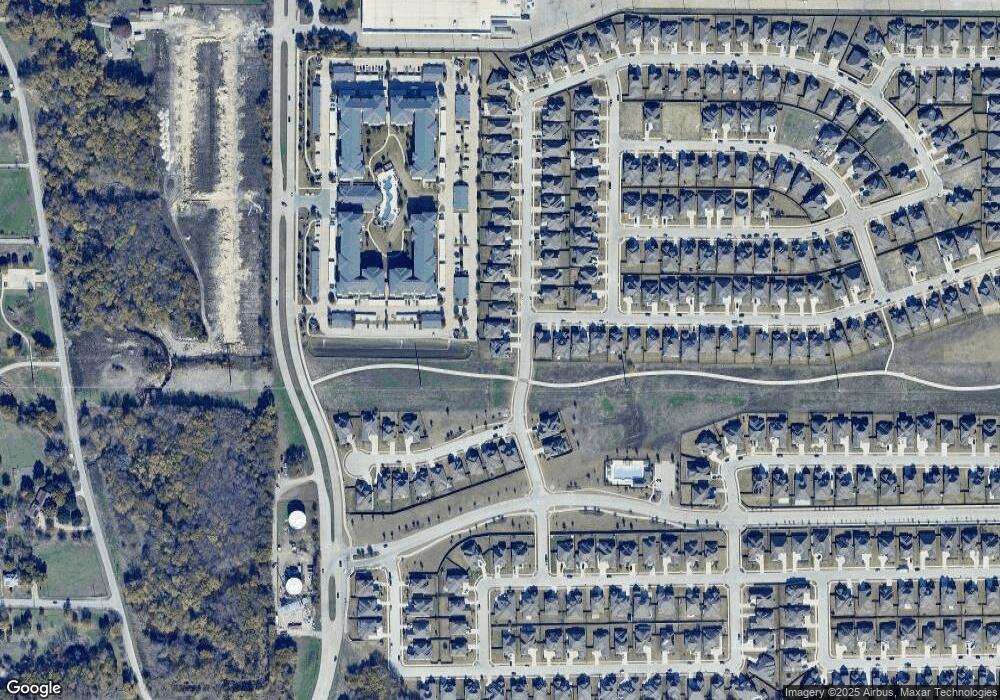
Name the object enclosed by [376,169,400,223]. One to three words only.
swimming pool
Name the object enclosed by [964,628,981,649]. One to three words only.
house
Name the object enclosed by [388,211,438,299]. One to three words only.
building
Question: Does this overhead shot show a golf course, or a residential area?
residential area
